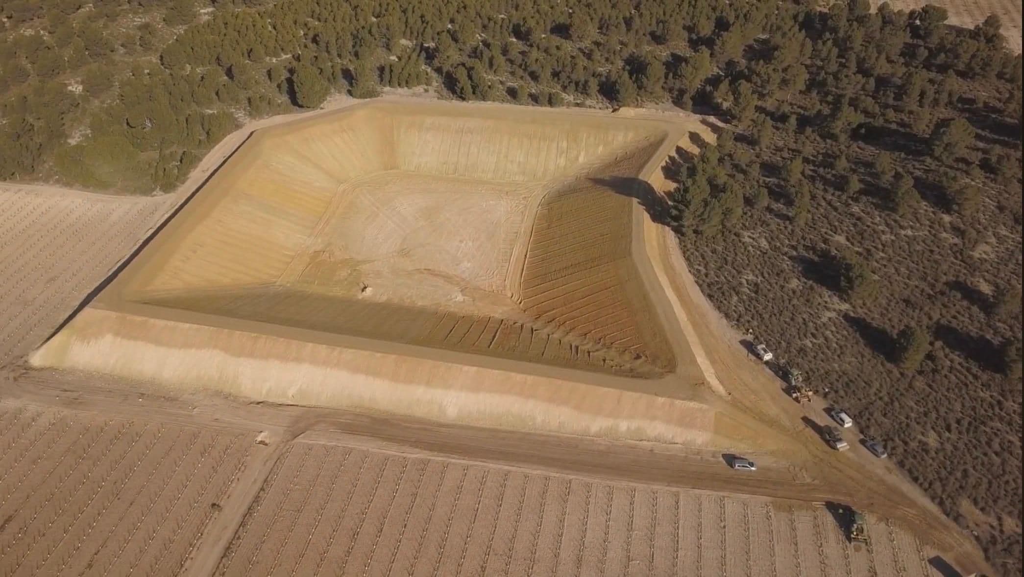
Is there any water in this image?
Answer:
Yes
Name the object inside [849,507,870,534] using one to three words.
work vehicle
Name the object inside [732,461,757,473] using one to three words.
vehicle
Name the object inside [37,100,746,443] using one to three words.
pond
